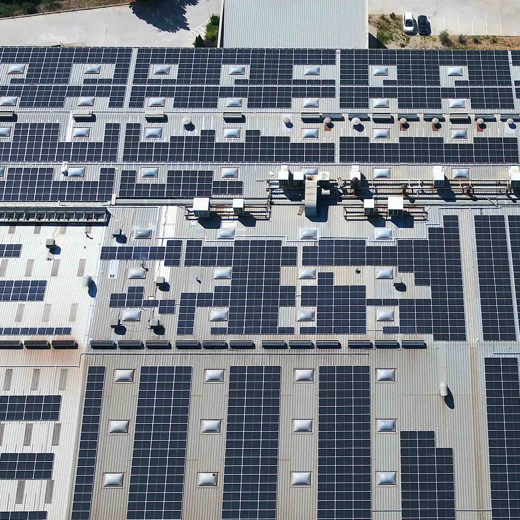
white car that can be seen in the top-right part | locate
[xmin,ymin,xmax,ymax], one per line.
[402,13,416,36]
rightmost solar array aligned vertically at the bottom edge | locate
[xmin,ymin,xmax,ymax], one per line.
[484,356,520,520]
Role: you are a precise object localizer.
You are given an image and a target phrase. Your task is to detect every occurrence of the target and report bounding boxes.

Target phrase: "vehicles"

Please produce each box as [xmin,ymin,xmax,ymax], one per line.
[416,15,430,37]
[402,13,416,36]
